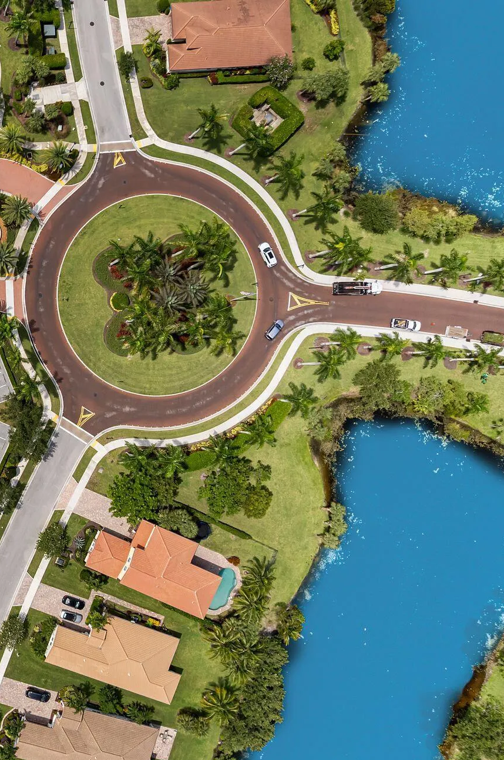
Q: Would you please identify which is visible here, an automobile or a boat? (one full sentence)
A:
The image shows an automobile.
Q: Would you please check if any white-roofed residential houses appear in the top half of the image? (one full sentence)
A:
No, there's no white-roofed residential house to be seen in the top half of the image.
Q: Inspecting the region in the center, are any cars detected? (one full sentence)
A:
Yes, there is a car in the center.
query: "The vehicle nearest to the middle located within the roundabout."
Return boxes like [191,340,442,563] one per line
[263,318,283,341]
